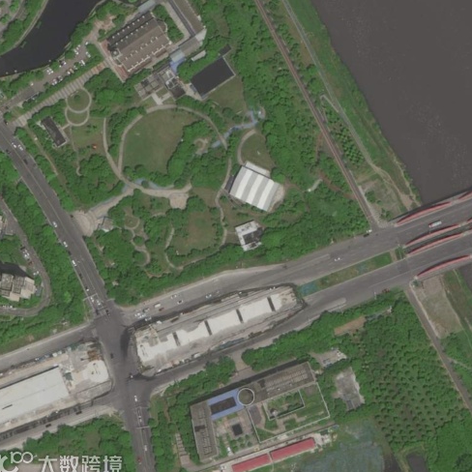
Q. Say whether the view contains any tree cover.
Yes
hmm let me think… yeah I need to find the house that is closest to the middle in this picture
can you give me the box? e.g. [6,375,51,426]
[235,220,264,252]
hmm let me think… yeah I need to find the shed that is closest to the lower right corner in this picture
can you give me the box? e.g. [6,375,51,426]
[270,437,317,461]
